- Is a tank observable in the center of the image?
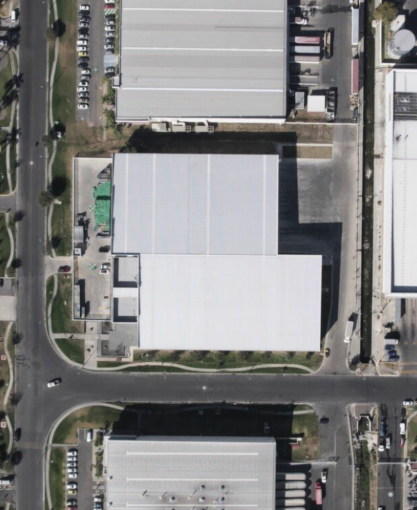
No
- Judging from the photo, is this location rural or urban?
urban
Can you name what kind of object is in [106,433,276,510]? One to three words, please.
building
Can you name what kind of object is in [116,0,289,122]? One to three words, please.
warehouse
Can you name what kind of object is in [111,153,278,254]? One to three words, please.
building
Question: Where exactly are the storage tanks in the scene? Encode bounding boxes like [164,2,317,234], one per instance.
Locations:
[385,27,417,60]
